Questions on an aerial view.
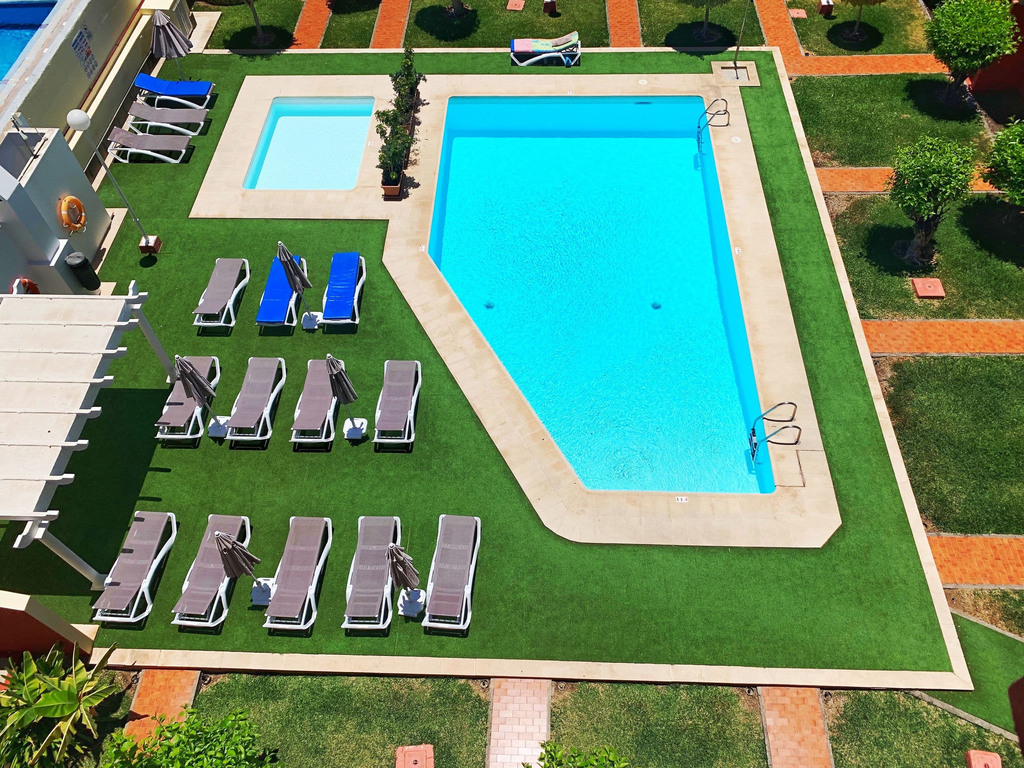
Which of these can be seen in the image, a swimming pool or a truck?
swimming pool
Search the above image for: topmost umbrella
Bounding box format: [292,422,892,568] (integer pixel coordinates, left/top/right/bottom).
[147,10,194,80]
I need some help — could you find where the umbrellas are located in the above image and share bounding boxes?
[147,10,194,80]
[282,242,325,331]
[380,542,426,616]
[323,354,368,440]
[210,531,279,605]
[171,356,233,439]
